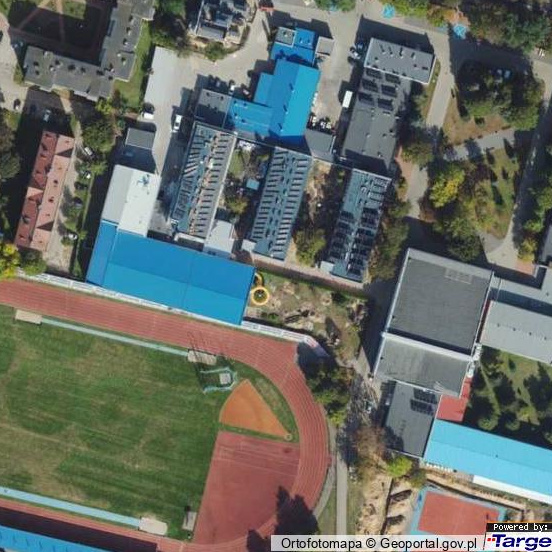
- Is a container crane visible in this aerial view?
No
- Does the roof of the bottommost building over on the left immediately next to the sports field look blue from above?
Yes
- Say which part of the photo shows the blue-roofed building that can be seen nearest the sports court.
bottom right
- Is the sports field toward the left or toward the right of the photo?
left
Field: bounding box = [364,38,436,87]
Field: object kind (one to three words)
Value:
building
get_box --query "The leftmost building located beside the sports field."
[14,130,76,253]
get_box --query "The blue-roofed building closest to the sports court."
[423,419,552,505]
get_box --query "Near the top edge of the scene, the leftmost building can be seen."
[24,0,157,103]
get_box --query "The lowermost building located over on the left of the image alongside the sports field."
[88,220,256,326]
